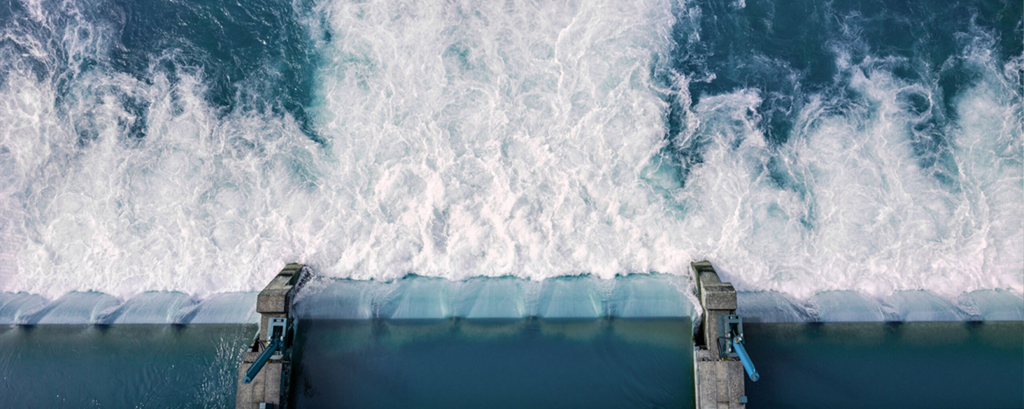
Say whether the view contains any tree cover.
No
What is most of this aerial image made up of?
water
